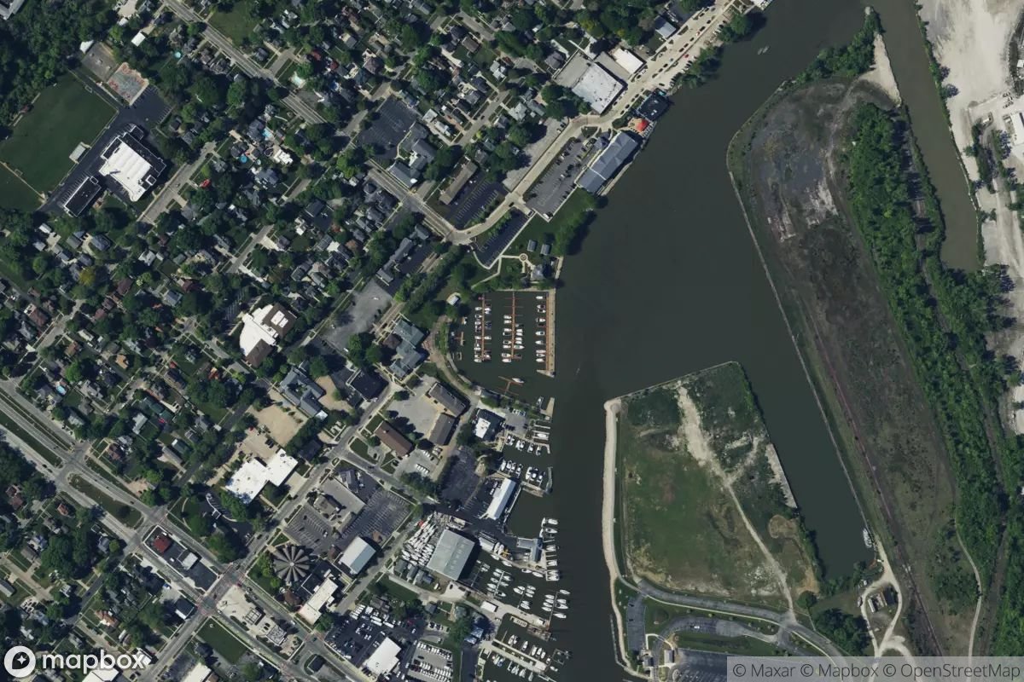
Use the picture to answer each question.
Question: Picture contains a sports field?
Yes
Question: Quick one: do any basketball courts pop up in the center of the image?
No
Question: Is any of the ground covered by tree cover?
Yes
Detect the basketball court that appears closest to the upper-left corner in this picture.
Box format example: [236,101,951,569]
[82,42,119,81]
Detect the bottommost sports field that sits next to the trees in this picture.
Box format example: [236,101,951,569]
[0,166,43,211]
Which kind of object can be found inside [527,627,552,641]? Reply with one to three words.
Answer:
ship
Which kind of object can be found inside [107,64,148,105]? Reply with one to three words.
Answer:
sports court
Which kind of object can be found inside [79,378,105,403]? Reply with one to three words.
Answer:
house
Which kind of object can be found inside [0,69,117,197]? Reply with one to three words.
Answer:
sports field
